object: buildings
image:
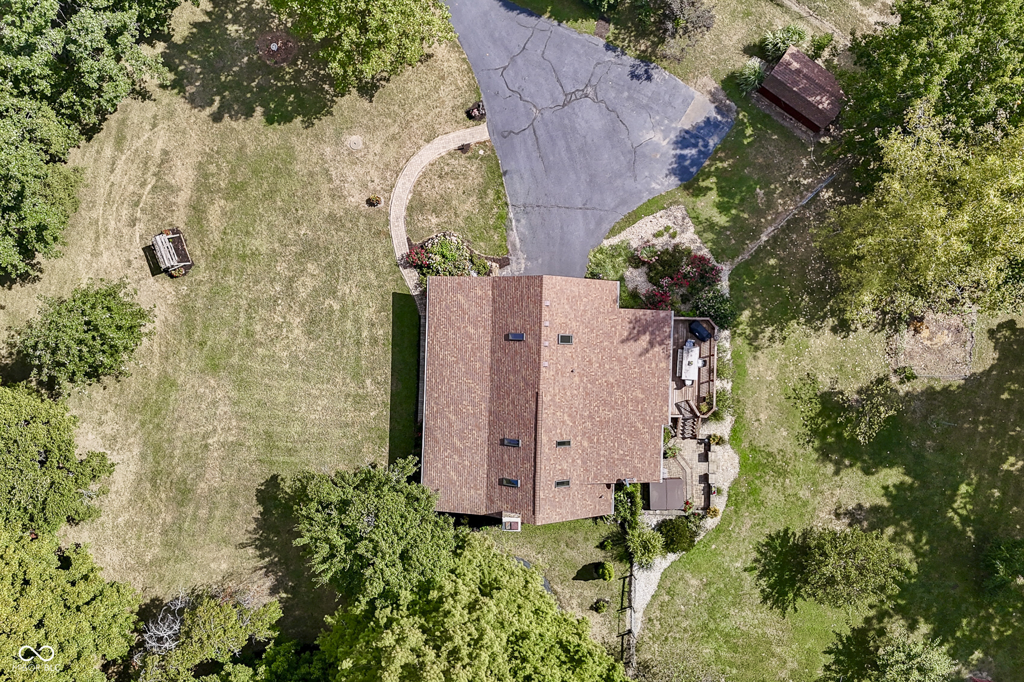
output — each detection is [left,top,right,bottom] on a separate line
[419,274,675,532]
[755,44,852,134]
